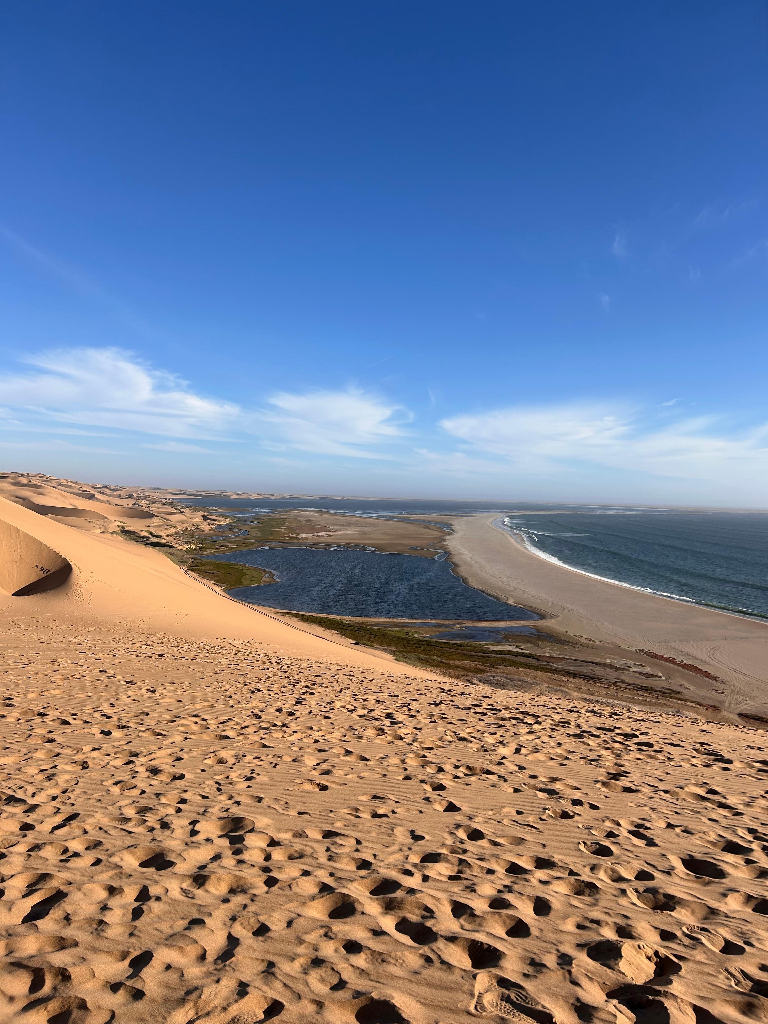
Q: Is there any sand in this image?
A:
Yes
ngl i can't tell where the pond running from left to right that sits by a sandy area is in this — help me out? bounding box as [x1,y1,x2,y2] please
[209,543,541,621]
